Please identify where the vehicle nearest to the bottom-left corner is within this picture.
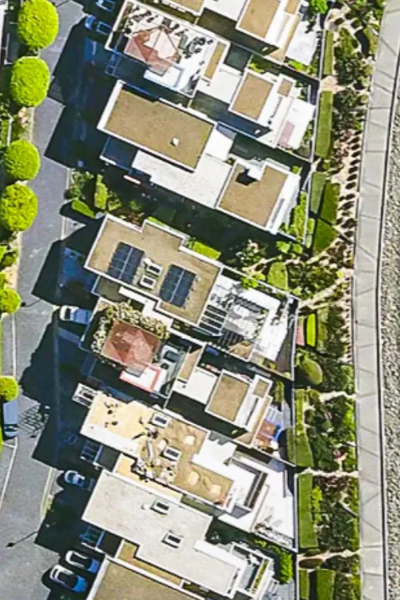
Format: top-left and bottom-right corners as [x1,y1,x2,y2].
[52,568,85,588]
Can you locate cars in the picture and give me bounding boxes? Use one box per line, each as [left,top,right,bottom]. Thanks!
[57,468,92,488]
[58,305,93,323]
[81,15,115,35]
[66,551,100,571]
[87,0,121,14]
[78,32,101,66]
[52,568,85,588]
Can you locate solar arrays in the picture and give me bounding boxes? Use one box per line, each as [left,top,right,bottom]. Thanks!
[108,242,144,284]
[158,263,196,308]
